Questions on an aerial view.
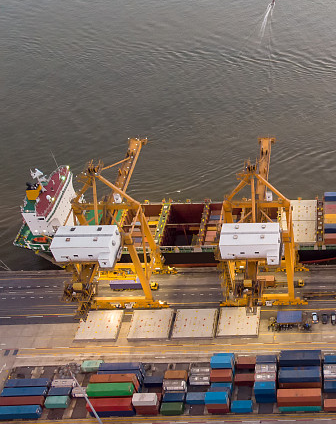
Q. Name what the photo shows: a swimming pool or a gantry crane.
gantry crane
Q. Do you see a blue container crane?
No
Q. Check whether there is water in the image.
Yes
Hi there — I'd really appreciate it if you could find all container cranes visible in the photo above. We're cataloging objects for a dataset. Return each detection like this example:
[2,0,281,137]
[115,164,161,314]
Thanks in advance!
[51,138,185,317]
[208,136,316,314]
